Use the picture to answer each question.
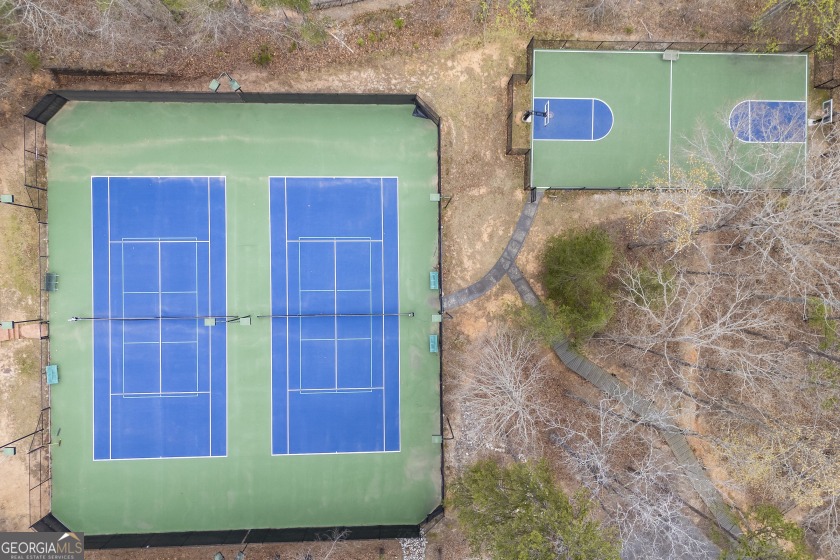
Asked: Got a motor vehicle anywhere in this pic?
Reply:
No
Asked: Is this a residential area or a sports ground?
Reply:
sports ground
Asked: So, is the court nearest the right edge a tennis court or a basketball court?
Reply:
basketball court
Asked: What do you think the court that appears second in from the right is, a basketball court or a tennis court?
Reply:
tennis court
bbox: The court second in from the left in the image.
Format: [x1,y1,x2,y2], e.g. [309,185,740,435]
[247,103,441,528]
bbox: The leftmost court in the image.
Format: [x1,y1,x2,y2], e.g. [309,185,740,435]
[46,102,250,531]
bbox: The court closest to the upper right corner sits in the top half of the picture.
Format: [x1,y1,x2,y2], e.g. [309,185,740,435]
[531,49,811,190]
